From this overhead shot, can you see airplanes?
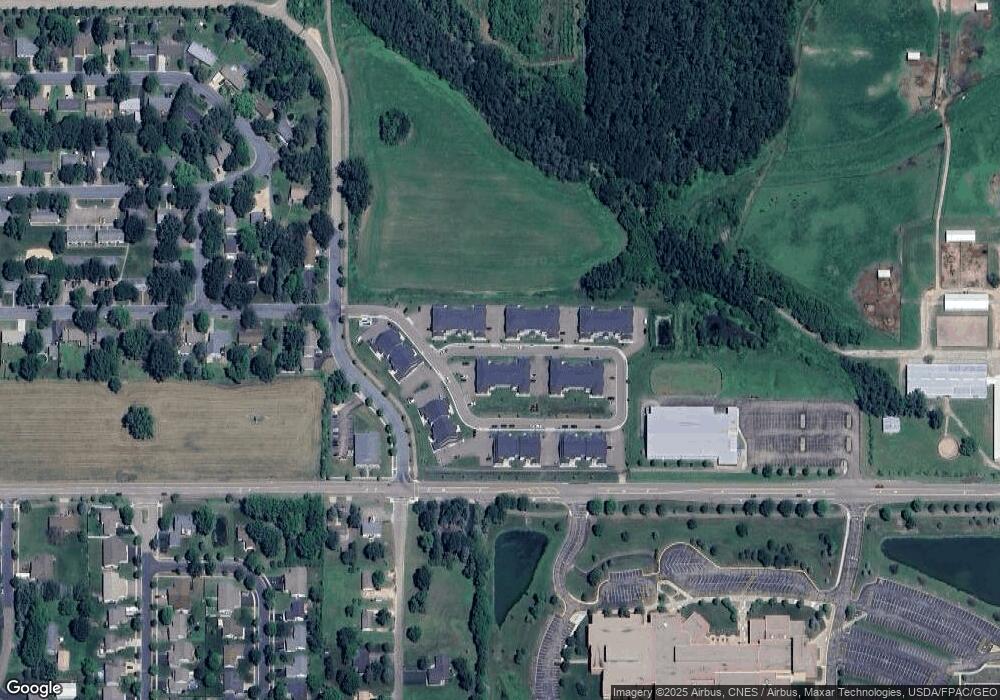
No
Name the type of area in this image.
residential area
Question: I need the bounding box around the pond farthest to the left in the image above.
[495,530,548,625]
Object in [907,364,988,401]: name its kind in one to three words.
building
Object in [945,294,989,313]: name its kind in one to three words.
barn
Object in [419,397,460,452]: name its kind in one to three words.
house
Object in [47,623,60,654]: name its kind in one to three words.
shed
